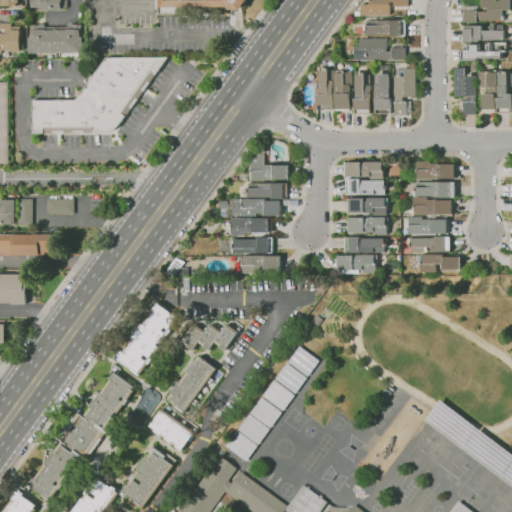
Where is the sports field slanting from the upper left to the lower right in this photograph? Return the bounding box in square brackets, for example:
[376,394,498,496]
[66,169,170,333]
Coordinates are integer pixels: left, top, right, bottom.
[364,303,512,426]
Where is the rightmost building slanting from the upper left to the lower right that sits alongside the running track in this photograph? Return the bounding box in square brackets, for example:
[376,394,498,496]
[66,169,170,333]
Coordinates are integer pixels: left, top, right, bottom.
[426,402,512,486]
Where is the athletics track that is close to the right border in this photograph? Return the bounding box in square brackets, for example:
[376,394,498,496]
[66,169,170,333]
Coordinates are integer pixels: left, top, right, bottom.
[354,294,512,433]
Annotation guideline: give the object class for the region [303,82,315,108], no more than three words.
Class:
swimming pool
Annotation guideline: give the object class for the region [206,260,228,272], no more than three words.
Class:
swimming pool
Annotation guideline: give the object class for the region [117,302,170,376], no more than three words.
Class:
building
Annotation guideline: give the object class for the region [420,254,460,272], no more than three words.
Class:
house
